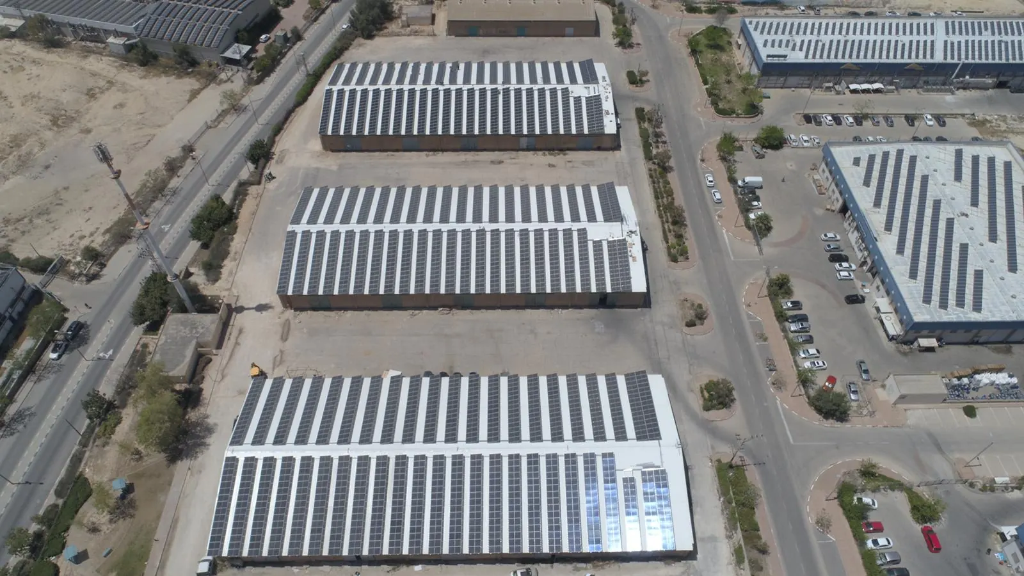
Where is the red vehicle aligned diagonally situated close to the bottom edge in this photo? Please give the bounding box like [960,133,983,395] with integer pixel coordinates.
[920,526,945,554]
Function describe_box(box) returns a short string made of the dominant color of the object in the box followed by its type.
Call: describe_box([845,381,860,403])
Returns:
gray car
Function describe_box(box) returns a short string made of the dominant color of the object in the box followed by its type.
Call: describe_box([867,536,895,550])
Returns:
white car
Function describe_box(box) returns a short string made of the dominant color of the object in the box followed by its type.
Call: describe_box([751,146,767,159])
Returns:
gray vehicle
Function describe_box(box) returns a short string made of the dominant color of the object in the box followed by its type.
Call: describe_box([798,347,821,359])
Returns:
white vehicle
